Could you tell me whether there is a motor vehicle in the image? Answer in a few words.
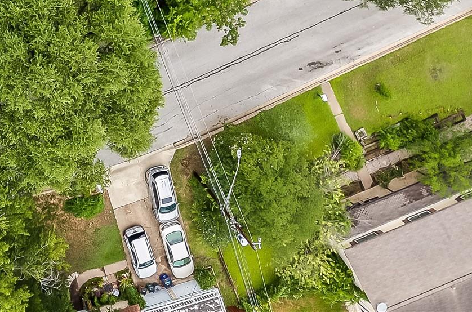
Yes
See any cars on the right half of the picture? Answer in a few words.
No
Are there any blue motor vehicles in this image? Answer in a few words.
No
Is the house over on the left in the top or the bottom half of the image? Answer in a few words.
bottom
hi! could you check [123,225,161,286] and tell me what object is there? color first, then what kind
white car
